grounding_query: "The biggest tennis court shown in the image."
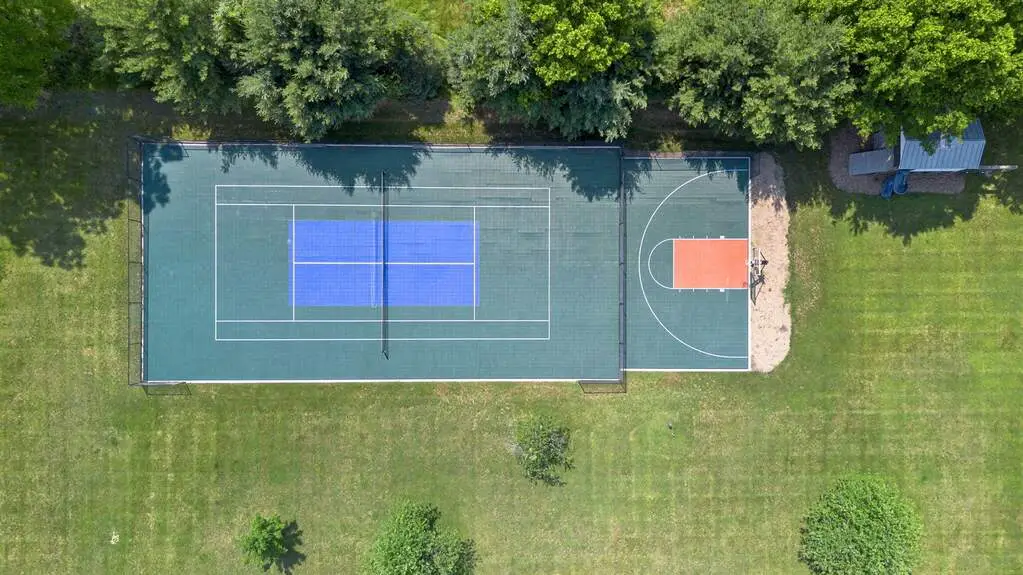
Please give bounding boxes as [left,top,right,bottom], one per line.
[140,140,619,383]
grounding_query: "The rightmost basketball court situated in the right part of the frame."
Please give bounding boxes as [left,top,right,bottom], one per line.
[619,155,751,371]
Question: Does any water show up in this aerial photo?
No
